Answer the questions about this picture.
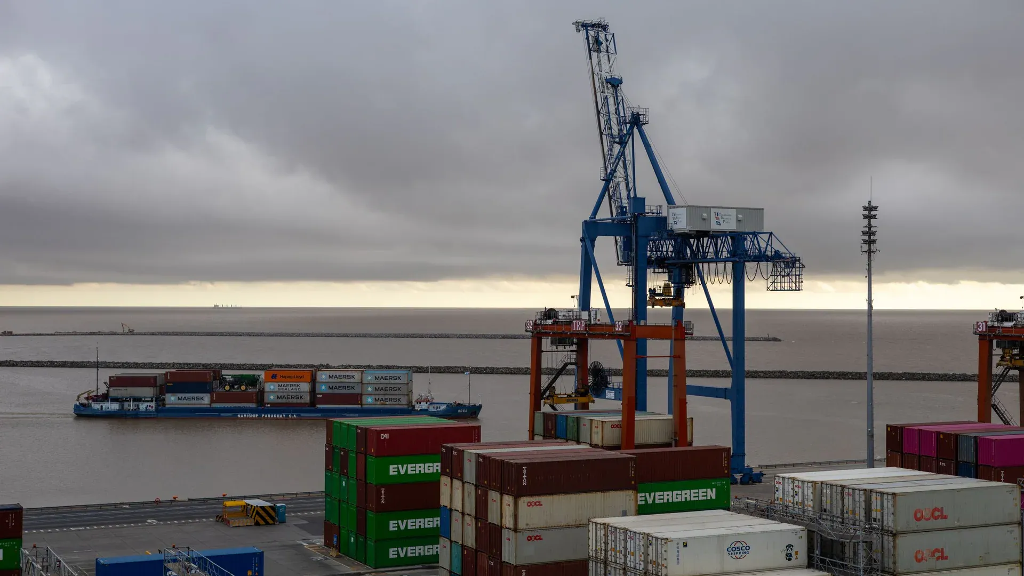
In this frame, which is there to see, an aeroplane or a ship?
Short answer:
ship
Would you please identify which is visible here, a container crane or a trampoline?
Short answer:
container crane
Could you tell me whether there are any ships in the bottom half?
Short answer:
Yes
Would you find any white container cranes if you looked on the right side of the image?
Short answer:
No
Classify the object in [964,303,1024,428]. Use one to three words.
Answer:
container crane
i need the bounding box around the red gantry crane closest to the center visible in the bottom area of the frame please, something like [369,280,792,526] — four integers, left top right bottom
[518,296,702,450]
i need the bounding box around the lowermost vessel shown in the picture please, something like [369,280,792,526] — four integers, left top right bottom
[75,350,482,419]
